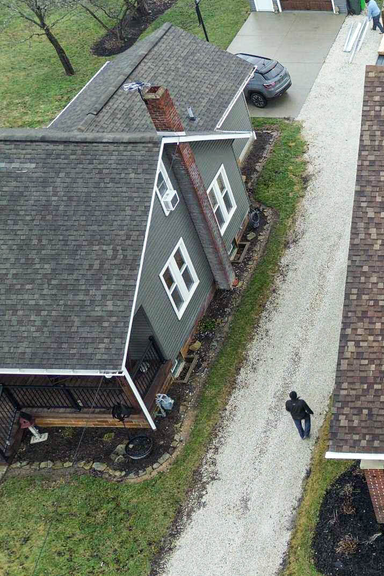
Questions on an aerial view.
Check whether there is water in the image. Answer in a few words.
No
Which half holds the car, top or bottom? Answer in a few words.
top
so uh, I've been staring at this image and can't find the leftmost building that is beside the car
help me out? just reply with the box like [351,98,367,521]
[0,21,264,478]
